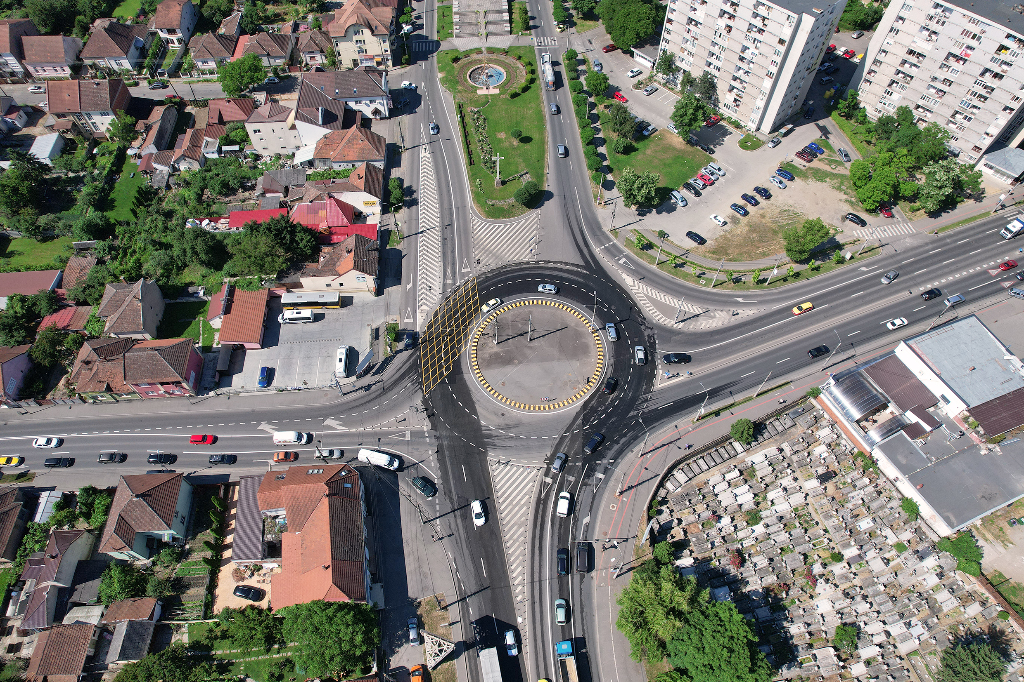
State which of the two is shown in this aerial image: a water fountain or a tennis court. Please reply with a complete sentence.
The image shows a water fountain.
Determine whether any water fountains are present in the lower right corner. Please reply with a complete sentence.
No, there is no water fountain in the lower right corner.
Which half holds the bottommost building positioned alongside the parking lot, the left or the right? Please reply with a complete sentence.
It is on the right.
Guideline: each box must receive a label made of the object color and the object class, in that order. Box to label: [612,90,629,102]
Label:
red vehicle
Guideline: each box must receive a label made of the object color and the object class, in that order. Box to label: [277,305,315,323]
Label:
white vehicle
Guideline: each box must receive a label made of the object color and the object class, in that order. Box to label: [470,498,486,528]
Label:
white car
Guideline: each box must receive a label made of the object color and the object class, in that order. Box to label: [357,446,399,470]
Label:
white vehicle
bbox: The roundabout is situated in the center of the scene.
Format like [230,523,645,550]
[418,256,664,462]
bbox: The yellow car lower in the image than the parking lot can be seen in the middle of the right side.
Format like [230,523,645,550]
[792,301,814,315]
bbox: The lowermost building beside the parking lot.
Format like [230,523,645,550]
[819,313,1024,542]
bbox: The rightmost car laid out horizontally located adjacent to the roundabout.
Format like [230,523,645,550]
[664,352,690,365]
